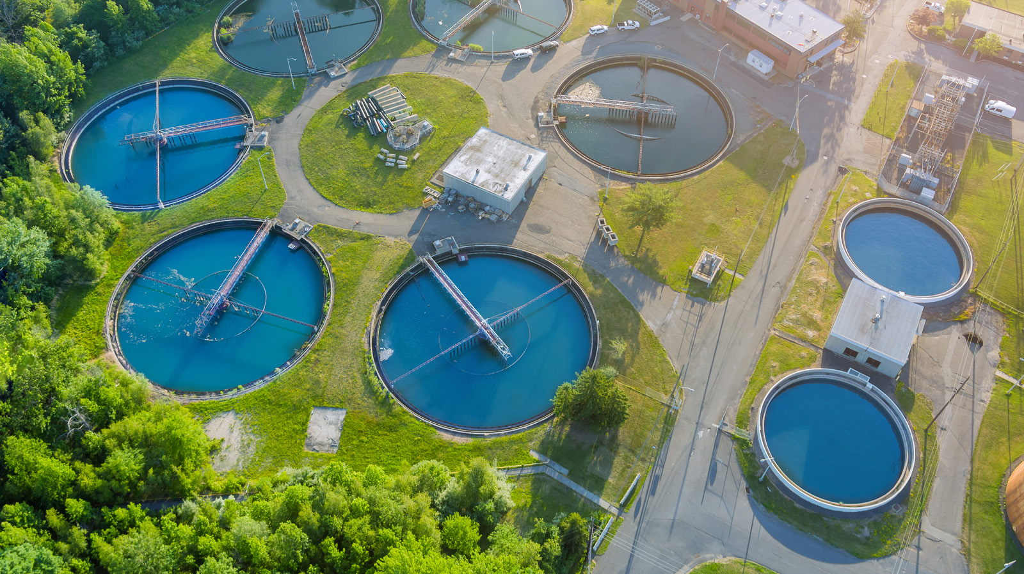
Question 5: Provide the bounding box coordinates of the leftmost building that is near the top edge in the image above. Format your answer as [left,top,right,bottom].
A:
[661,0,845,78]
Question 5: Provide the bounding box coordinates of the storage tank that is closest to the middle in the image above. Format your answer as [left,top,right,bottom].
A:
[370,243,600,435]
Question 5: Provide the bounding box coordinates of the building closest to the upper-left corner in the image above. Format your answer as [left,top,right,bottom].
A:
[442,127,548,215]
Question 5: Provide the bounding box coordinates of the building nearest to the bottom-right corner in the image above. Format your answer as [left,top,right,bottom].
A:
[825,277,926,376]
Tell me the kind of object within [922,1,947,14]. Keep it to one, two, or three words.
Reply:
vehicle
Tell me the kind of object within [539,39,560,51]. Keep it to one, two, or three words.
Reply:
vehicle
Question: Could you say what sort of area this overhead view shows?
industrial area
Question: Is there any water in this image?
Yes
